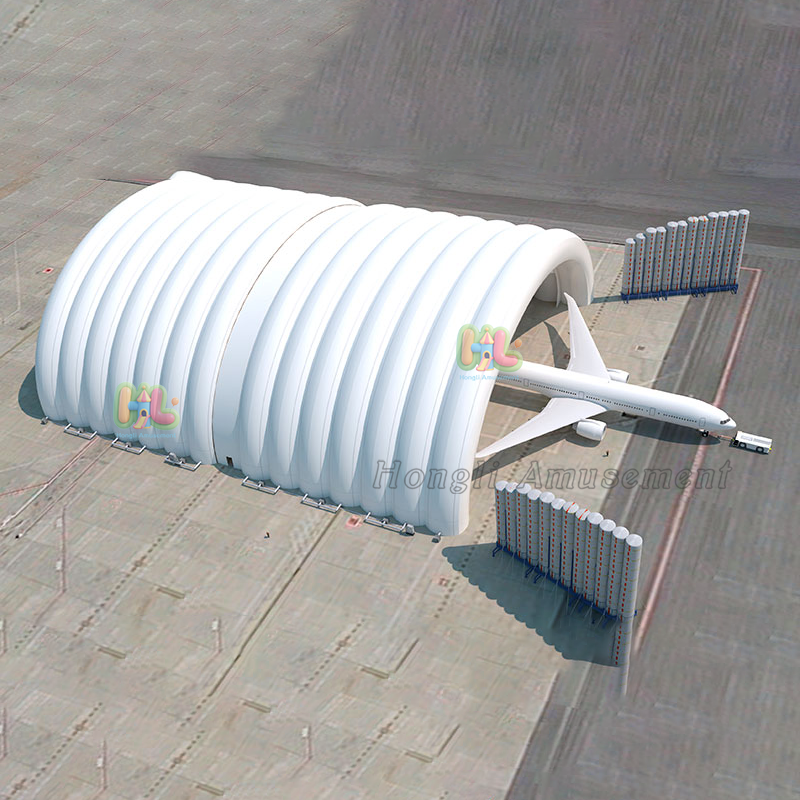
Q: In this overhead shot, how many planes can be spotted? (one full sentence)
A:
Altogether the scene contains 1 plane.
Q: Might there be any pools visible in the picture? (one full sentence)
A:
No, the scene contains no pool.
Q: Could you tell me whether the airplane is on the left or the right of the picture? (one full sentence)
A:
You can find the airplane on the right side of the picture.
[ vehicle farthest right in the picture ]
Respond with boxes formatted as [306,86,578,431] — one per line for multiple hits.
[734,432,773,454]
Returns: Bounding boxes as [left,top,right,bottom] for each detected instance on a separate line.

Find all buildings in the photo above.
[36,171,592,535]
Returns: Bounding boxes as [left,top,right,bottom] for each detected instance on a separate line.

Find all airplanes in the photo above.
[480,294,731,455]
